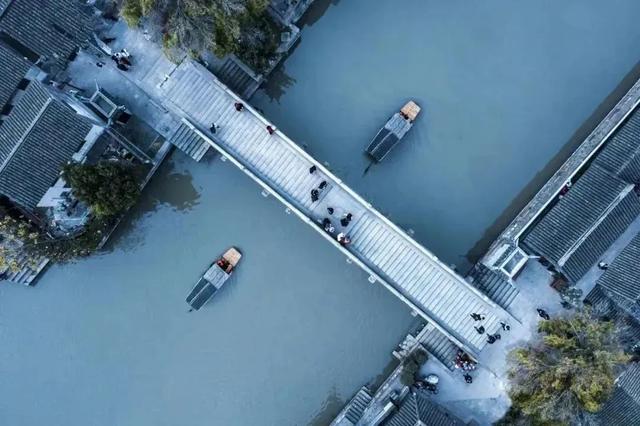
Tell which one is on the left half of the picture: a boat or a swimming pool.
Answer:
boat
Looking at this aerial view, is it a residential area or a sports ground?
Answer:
residential area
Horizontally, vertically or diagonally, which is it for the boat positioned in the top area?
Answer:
diagonally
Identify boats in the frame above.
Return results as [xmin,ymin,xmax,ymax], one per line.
[361,98,422,166]
[184,246,243,314]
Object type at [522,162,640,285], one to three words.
house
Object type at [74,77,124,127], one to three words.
building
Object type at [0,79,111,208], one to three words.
house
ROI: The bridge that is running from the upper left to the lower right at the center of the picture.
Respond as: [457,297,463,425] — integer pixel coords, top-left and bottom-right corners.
[158,63,519,377]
